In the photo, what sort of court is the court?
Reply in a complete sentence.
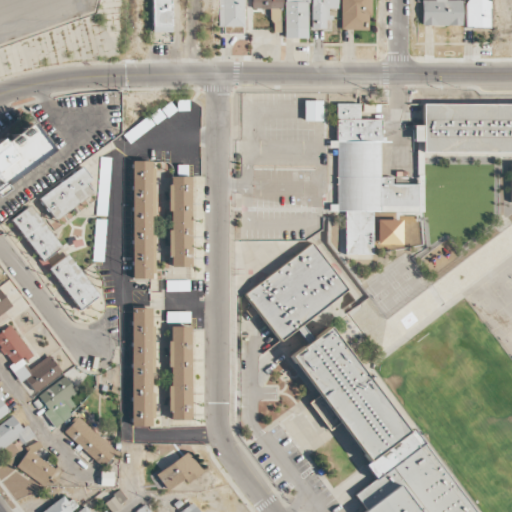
The court is a basketball court.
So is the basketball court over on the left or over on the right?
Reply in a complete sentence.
The basketball court is on the right side of the image.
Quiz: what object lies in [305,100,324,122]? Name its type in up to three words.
shed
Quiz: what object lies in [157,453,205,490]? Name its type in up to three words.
house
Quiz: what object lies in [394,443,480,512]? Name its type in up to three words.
building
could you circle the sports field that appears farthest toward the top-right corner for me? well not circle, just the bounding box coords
[426,165,494,256]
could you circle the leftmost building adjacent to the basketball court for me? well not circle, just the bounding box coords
[246,245,348,340]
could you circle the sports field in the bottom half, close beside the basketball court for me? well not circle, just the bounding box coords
[380,298,512,512]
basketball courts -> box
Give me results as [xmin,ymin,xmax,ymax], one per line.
[362,254,431,318]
